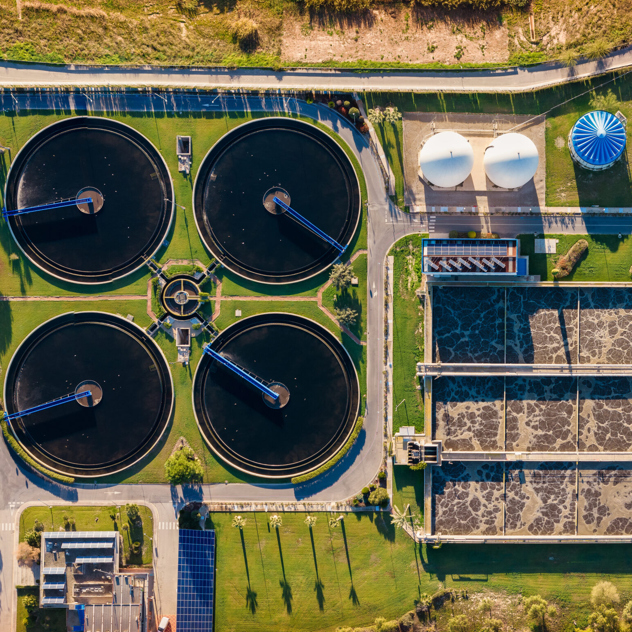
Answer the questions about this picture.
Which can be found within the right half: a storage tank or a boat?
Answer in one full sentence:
There is a storage tank within the right half.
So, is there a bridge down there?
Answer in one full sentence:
Yes, the picture does show a bridge.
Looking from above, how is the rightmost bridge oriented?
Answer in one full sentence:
Seen from above, the rightmost bridge lies on a diagonal.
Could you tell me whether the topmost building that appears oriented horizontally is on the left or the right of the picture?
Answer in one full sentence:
You can find the topmost building that appears oriented horizontally on the right side of the picture.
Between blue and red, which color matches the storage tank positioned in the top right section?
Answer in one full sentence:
From above, the storage tank positioned in the top right section appears blue.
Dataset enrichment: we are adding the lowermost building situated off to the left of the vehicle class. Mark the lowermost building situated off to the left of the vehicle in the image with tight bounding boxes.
[70,570,152,632]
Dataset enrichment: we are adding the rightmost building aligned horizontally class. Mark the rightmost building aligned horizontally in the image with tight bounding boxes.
[421,238,517,276]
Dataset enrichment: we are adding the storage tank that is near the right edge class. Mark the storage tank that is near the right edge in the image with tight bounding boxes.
[568,109,627,169]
